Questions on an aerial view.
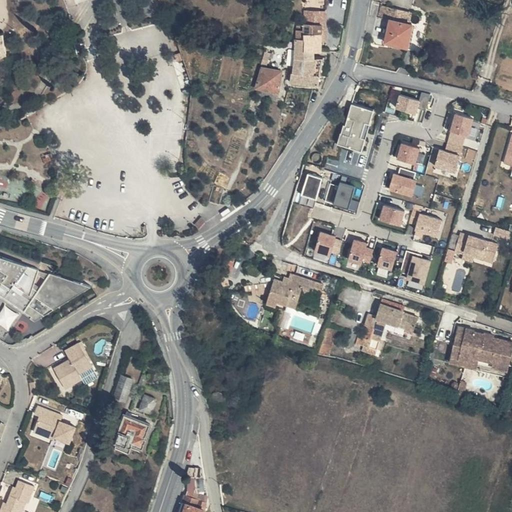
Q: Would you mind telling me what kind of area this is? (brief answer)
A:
residential area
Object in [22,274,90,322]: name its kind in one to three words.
building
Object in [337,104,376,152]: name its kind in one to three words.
house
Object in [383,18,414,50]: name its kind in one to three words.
house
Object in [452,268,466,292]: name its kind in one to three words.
swimming pool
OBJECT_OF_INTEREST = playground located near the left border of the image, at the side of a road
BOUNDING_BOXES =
[0,176,48,214]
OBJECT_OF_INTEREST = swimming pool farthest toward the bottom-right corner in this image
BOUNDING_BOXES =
[474,378,493,392]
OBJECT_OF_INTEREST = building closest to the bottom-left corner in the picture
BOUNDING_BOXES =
[0,482,34,512]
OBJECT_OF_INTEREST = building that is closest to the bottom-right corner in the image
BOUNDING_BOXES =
[450,326,512,376]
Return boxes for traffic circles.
[129,246,189,306]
